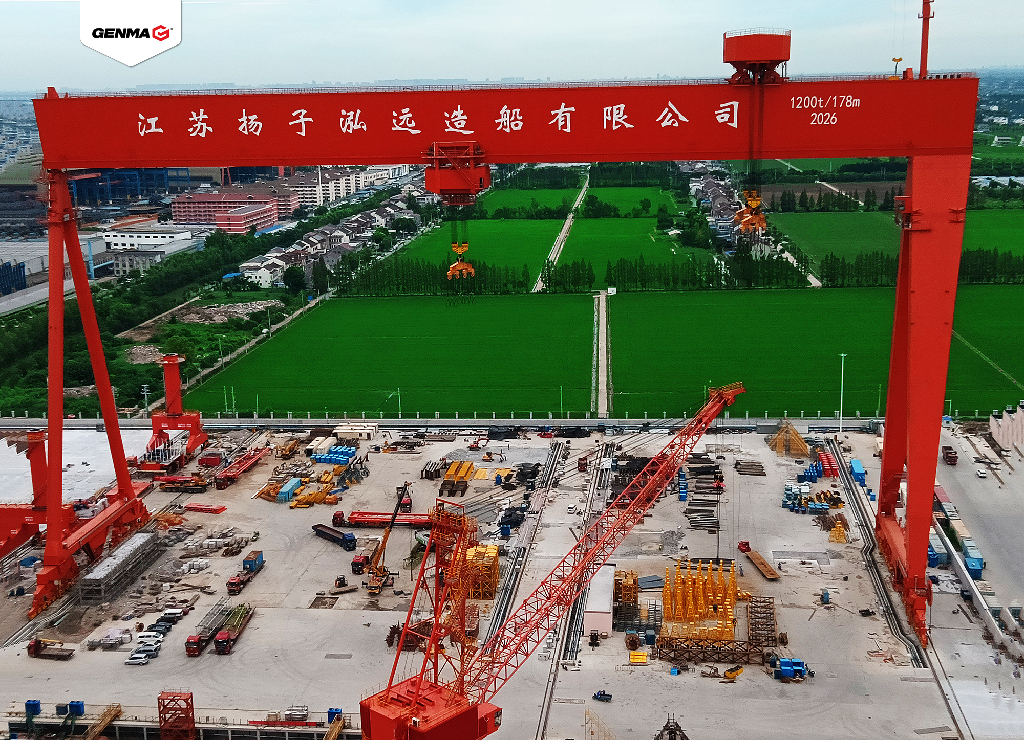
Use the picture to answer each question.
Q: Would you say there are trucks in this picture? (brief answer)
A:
Yes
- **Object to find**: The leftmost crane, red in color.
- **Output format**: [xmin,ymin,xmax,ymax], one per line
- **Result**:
[0,440,90,577]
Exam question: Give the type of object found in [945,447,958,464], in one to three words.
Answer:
vehicle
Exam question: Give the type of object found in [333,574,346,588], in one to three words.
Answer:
vehicle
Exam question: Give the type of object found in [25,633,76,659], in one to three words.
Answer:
truck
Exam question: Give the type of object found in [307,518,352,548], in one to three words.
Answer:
truck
